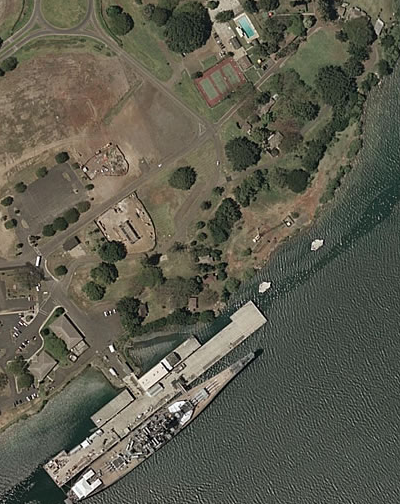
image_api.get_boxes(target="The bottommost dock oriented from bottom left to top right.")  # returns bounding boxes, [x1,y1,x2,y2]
[44,301,267,487]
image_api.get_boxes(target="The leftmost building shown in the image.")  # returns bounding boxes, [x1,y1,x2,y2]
[30,351,58,381]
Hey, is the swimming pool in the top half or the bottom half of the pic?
top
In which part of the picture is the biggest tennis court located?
top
